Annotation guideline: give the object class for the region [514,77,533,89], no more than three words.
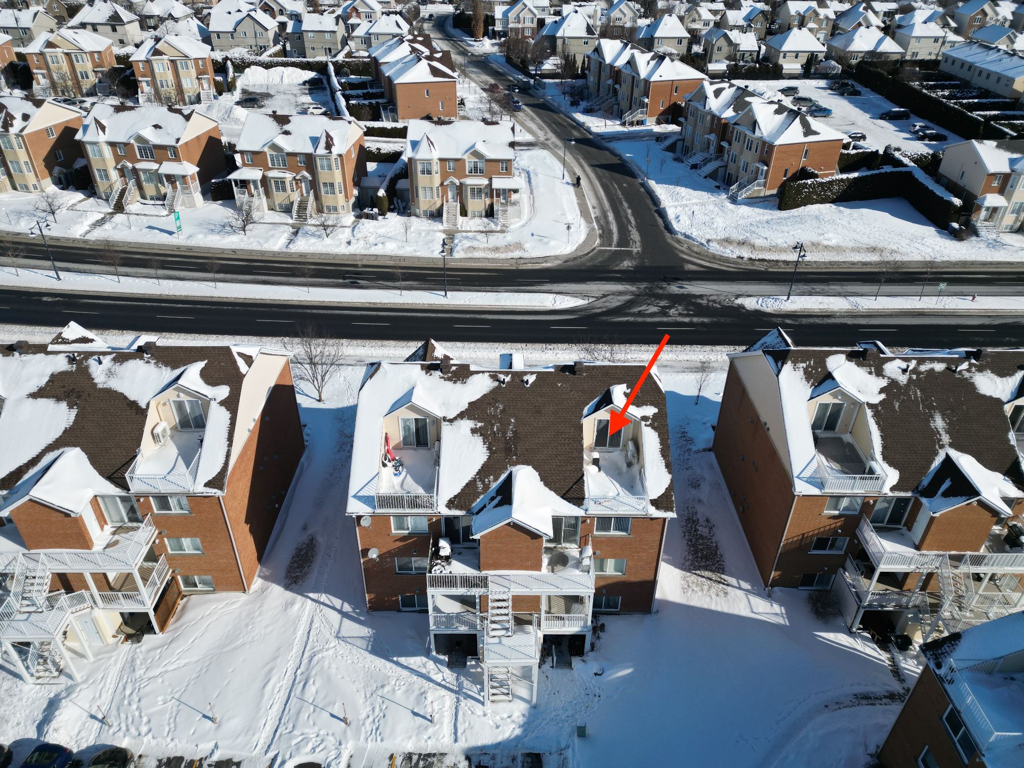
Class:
vehicle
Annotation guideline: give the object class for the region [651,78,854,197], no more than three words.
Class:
house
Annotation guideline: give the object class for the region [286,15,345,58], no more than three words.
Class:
house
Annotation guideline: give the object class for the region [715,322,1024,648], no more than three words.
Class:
building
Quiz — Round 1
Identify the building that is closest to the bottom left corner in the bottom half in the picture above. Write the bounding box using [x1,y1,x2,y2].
[0,324,303,679]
